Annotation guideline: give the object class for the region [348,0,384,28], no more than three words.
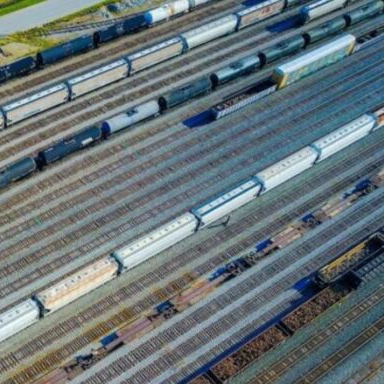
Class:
rail car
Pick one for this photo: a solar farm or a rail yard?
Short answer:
rail yard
